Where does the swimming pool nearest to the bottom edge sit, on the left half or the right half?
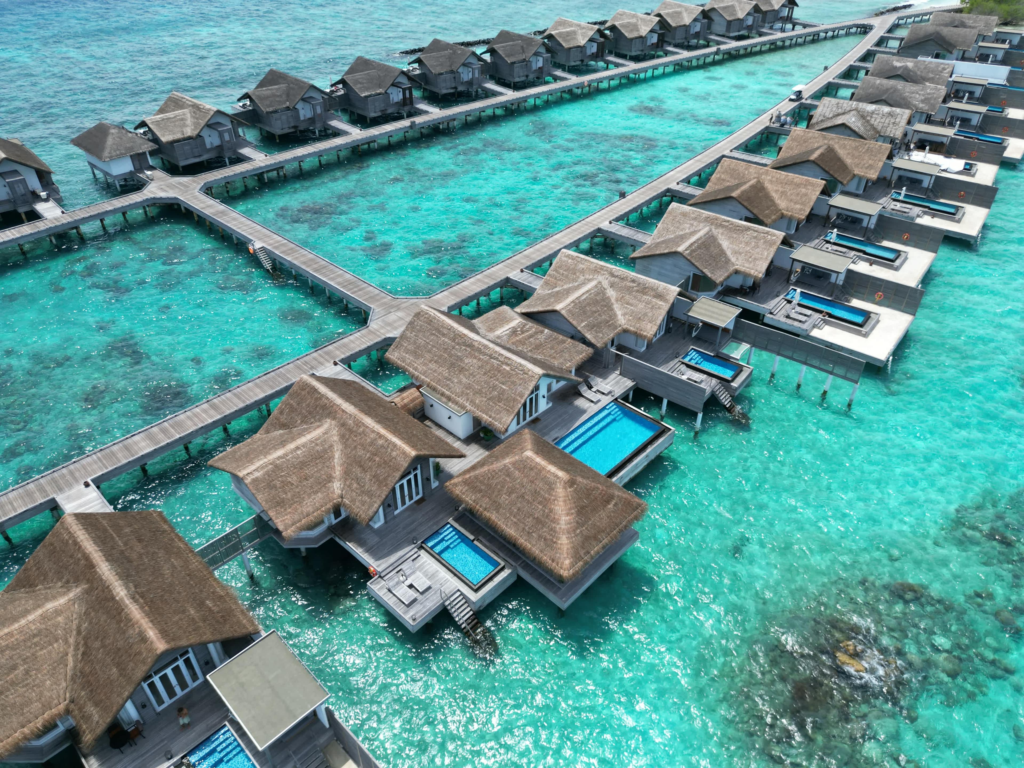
left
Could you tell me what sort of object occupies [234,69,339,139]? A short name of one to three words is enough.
house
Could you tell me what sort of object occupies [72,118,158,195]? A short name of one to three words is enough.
shed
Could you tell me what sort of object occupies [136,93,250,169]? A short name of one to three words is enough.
house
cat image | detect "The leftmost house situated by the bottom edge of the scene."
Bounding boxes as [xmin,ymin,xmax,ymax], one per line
[0,507,260,758]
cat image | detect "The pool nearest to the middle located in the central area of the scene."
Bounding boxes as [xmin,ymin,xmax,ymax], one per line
[551,398,675,488]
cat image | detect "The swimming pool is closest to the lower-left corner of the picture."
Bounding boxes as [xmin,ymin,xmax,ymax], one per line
[174,721,265,768]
